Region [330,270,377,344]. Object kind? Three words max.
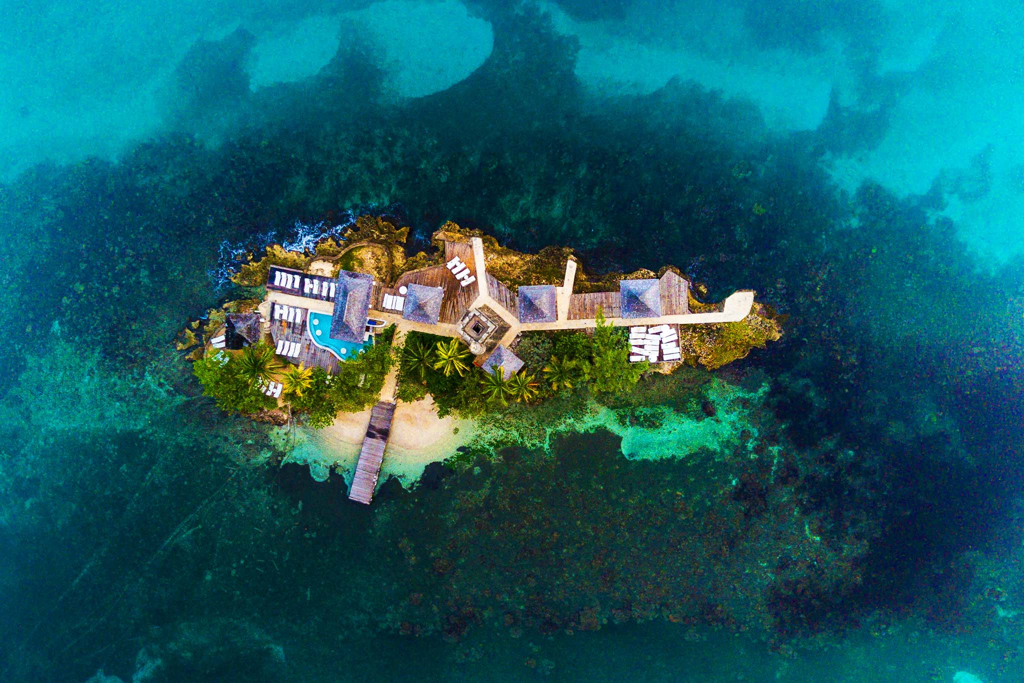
building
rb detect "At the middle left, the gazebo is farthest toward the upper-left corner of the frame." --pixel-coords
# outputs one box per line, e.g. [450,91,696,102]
[225,313,264,349]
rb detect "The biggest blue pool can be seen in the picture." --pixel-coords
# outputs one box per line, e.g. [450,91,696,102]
[307,310,378,363]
